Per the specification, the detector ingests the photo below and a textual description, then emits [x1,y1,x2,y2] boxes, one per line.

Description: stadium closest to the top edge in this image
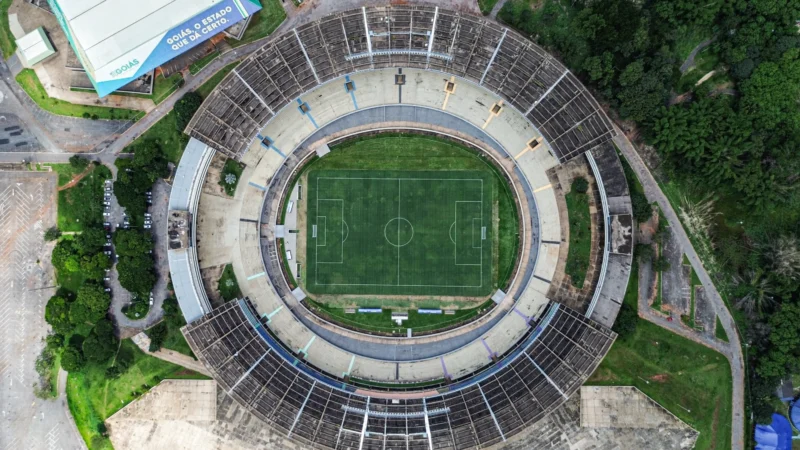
[47,0,262,97]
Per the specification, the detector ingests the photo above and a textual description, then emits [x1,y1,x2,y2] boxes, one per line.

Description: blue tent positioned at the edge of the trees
[752,412,792,450]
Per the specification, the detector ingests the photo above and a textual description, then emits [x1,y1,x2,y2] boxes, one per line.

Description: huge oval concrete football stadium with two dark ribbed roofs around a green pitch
[167,5,633,450]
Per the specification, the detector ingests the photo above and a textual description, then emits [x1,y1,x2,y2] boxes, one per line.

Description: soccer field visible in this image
[307,170,493,295]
